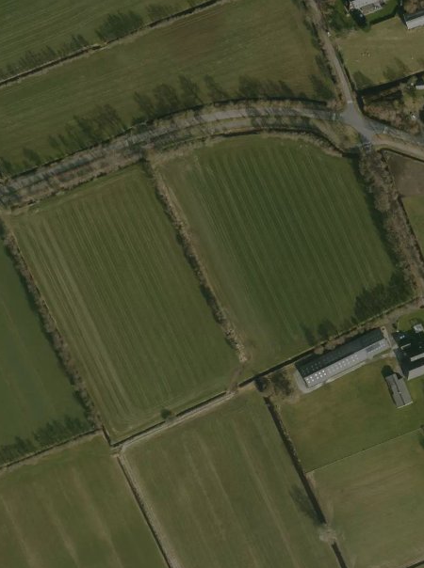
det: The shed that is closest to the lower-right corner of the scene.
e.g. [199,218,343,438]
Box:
[384,372,412,408]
